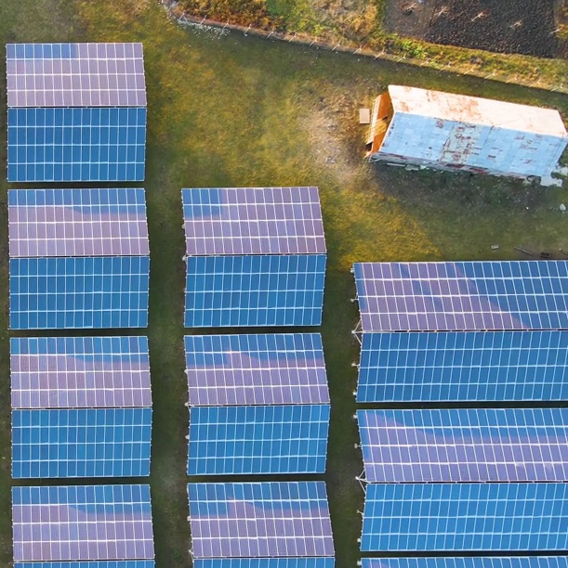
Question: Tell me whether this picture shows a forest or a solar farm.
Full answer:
The picture captures a solar farm.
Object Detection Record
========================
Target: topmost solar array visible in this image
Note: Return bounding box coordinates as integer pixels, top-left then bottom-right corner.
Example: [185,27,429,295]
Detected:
[6,42,148,181]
